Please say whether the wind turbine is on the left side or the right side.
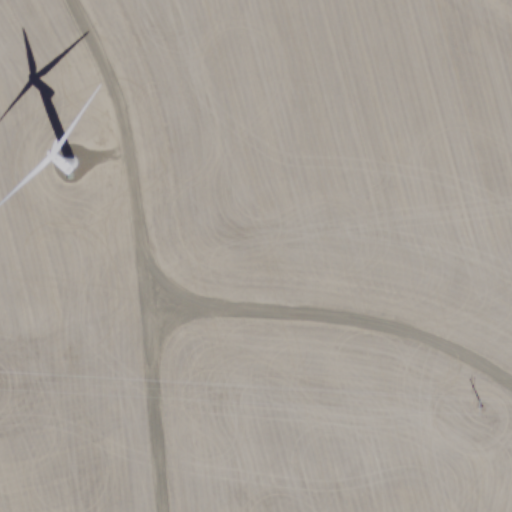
left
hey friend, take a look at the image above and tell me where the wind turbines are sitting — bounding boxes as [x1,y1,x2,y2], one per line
[0,83,104,206]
